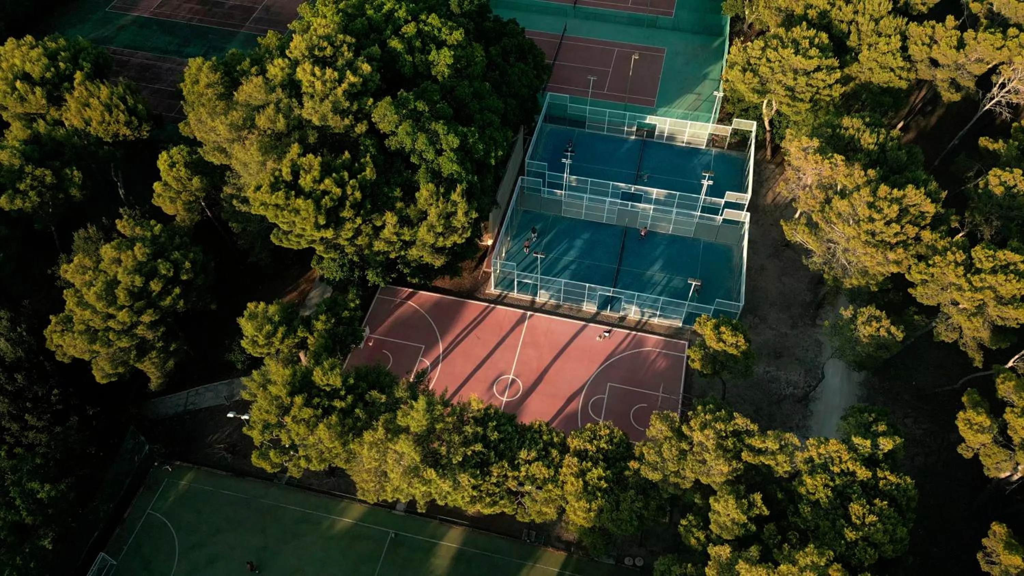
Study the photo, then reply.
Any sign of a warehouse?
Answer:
No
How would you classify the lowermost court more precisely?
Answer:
basketball court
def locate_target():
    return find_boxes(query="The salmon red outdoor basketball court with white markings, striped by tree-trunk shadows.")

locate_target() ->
[345,284,689,515]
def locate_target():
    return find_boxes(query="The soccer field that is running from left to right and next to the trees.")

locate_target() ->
[87,460,644,576]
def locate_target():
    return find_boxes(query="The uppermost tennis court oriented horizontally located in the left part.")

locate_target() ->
[27,0,349,58]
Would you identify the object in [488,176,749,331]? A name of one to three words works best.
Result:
sports court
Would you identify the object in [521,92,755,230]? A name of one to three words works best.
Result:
sports court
